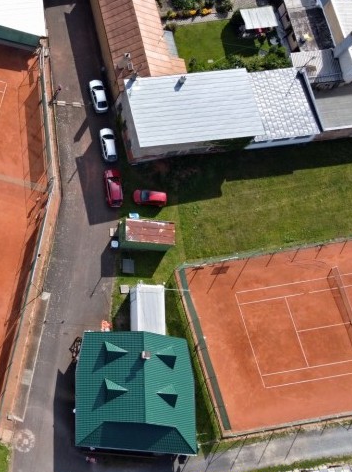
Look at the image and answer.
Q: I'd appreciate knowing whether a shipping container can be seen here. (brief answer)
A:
No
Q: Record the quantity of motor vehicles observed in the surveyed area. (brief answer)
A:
4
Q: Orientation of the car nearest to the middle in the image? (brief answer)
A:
horizontally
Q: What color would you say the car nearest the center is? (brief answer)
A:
red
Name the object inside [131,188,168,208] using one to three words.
car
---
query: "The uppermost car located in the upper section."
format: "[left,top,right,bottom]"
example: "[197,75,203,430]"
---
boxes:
[89,80,109,114]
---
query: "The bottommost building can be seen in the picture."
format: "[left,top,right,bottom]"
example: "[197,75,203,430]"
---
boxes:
[75,332,197,456]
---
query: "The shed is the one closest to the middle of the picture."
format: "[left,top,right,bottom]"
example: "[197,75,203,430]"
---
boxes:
[120,219,175,251]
